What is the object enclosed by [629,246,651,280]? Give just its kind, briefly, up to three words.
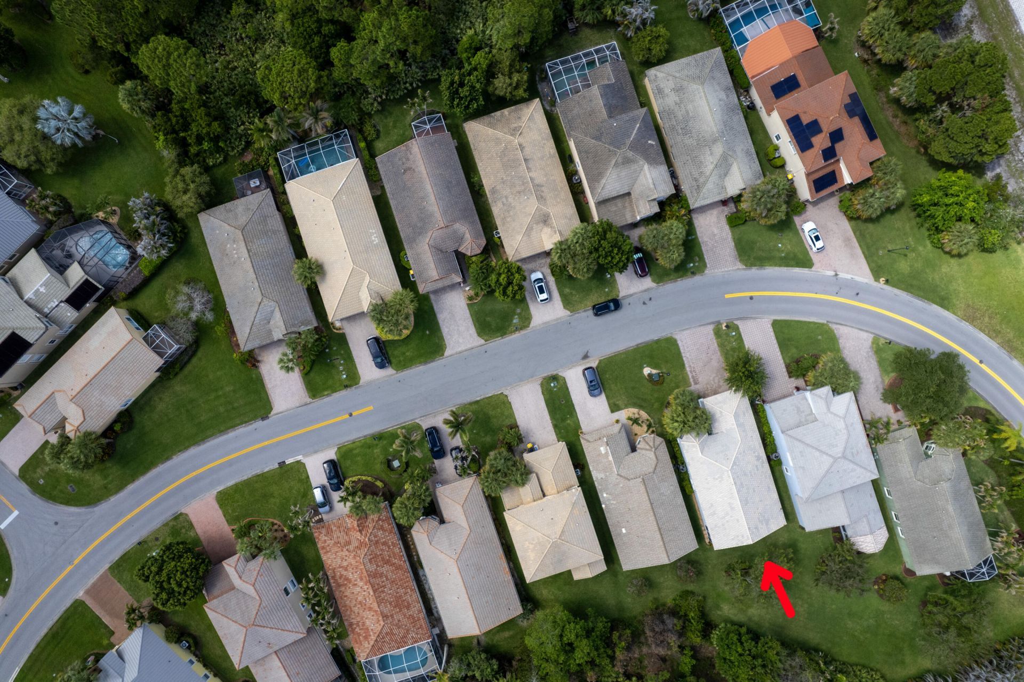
car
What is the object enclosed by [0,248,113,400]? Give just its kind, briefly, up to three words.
house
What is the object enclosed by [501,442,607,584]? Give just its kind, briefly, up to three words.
house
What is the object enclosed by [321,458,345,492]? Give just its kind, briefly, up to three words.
car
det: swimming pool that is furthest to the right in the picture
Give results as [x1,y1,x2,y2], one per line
[727,0,820,49]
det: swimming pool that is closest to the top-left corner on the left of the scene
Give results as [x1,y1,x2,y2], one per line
[74,228,132,272]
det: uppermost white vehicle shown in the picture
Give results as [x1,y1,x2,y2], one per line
[799,220,825,253]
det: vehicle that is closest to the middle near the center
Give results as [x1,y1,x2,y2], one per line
[530,270,551,304]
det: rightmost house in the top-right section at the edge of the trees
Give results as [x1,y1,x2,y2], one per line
[741,20,887,201]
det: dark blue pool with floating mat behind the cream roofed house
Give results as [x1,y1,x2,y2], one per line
[288,147,353,180]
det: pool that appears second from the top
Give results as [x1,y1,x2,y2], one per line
[551,55,615,96]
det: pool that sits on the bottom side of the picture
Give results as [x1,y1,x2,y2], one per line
[376,646,430,676]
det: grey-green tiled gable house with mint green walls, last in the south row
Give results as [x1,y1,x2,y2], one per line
[867,426,993,575]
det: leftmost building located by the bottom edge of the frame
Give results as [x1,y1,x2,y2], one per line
[84,620,238,682]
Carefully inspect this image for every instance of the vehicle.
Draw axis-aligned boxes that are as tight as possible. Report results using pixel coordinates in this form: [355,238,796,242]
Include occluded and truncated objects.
[581,365,602,398]
[589,298,623,317]
[321,458,345,492]
[629,246,651,280]
[365,335,392,368]
[311,483,333,514]
[799,220,825,253]
[423,425,446,459]
[530,270,551,304]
